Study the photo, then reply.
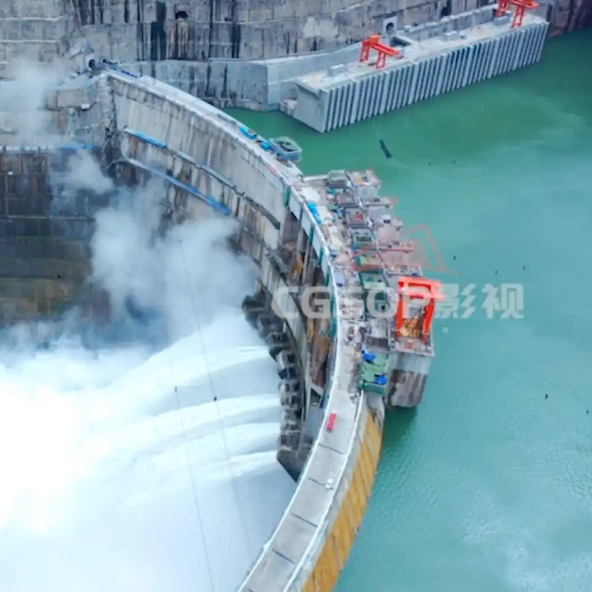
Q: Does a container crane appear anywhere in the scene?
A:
Yes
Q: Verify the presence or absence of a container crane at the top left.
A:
No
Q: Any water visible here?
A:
Yes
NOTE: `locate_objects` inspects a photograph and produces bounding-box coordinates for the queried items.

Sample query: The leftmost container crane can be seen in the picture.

[368,31,406,70]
